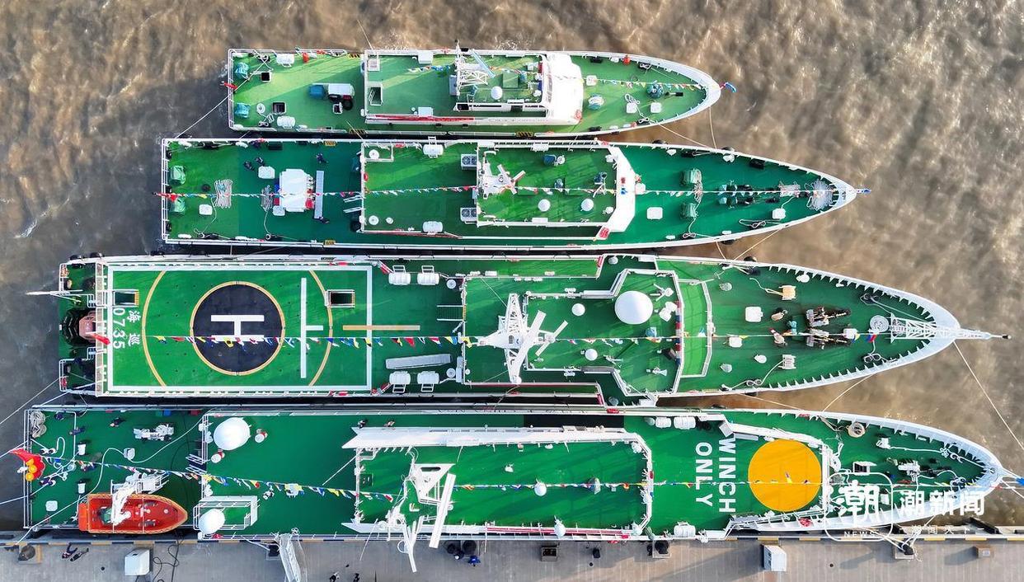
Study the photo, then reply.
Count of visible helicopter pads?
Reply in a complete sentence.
I count 1 helicopter pad.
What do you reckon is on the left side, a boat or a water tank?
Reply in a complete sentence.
Visible on the left side is a boat.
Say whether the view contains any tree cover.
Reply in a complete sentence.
No, the scene doesn't show any tree cover.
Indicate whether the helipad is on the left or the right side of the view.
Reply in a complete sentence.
The helipad appears in the left half of the scene.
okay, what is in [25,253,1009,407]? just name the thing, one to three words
ship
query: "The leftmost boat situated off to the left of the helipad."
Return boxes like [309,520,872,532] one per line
[51,307,94,349]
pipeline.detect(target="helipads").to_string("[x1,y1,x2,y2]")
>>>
[104,264,373,392]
